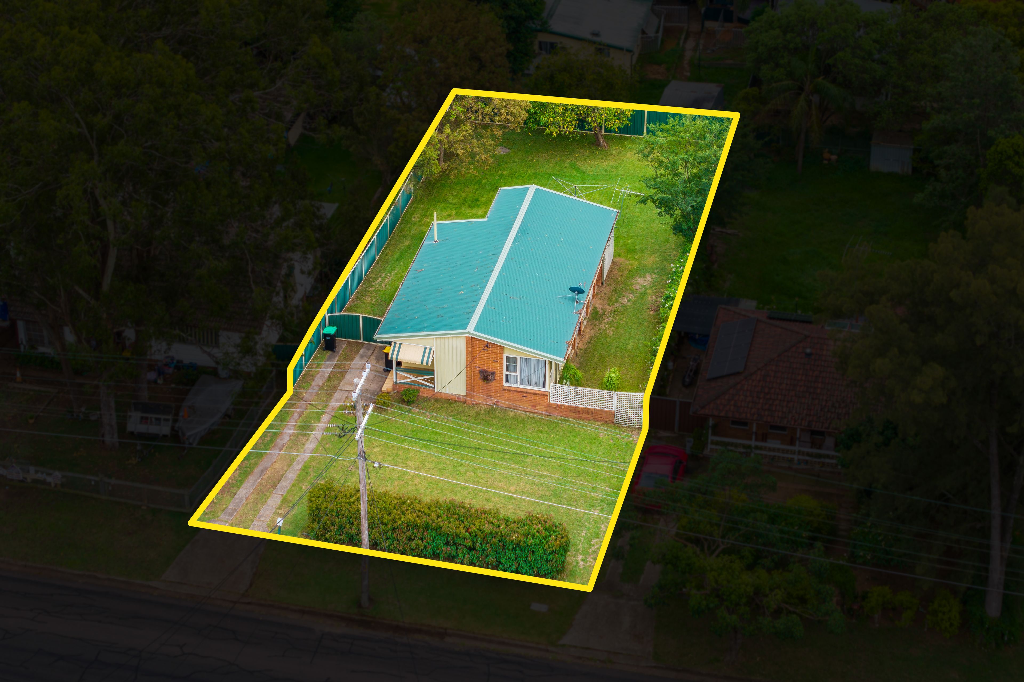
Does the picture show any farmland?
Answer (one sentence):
No, the picture contains no farmland.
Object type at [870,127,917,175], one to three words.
shed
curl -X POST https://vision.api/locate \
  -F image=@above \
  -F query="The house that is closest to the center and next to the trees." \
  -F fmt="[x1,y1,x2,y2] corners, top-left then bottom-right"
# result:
[371,183,622,415]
